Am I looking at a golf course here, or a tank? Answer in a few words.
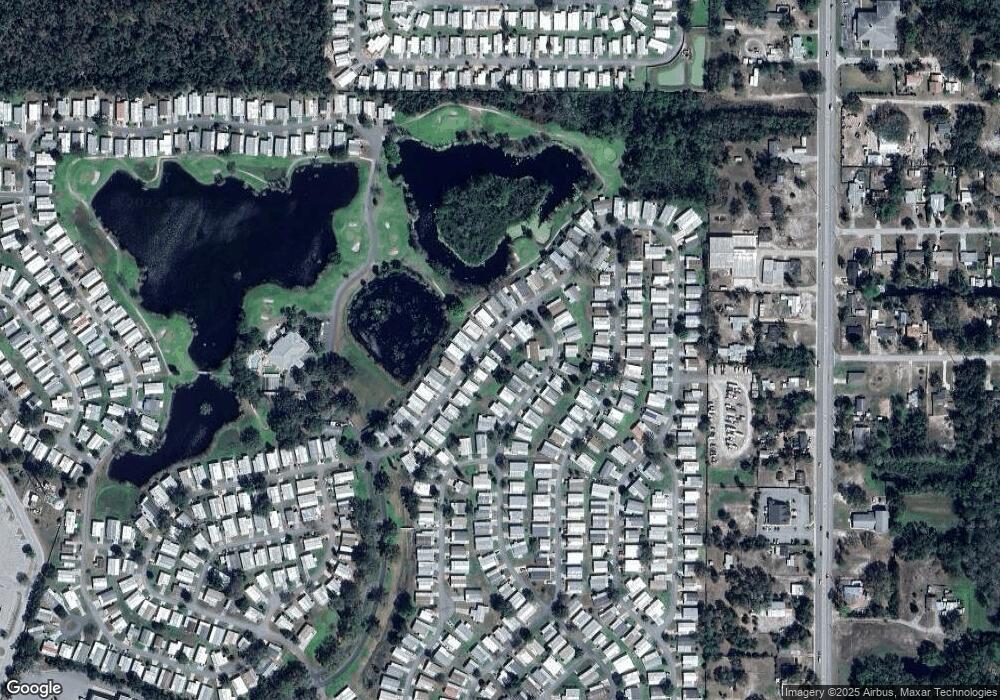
golf course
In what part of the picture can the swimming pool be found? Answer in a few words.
left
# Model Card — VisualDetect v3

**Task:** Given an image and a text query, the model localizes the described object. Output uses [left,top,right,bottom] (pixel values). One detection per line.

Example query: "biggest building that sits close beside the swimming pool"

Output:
[268,330,312,375]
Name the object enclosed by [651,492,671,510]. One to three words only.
house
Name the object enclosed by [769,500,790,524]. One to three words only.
building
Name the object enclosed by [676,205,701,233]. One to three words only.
house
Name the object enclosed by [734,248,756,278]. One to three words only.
building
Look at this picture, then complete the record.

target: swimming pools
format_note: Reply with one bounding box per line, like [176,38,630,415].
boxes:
[247,350,268,371]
